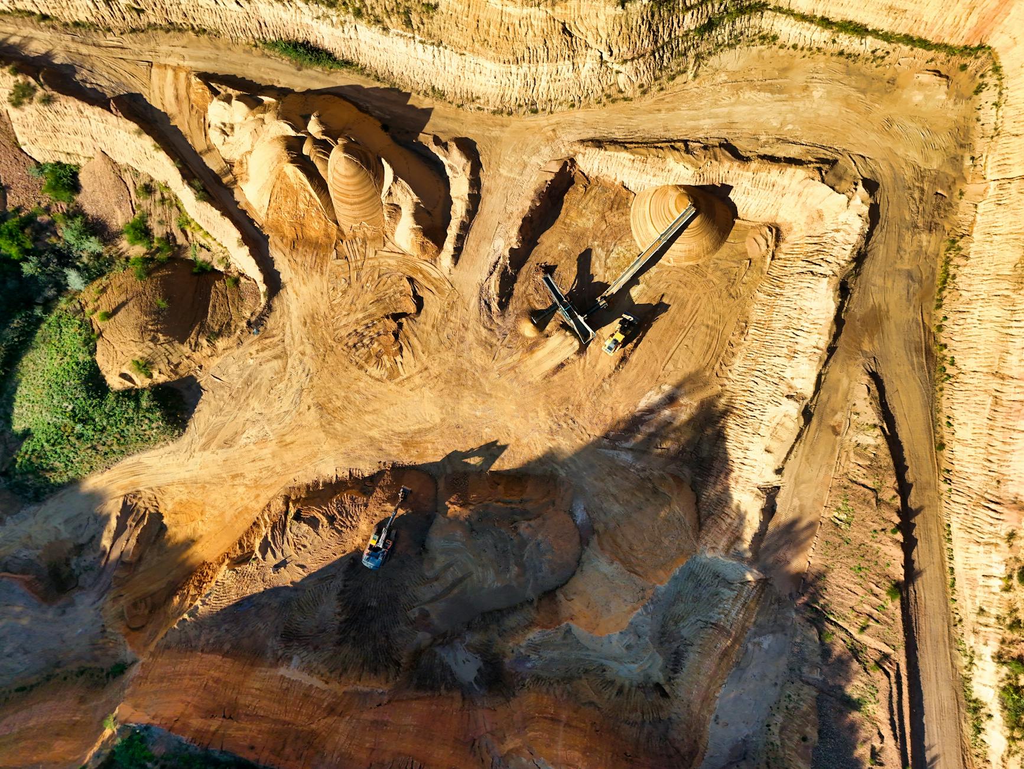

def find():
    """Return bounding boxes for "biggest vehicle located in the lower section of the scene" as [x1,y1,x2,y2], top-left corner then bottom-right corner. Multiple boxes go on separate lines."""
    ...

[359,491,408,580]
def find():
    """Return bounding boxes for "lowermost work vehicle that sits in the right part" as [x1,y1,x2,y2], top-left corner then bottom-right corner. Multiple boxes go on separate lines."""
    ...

[604,309,642,356]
